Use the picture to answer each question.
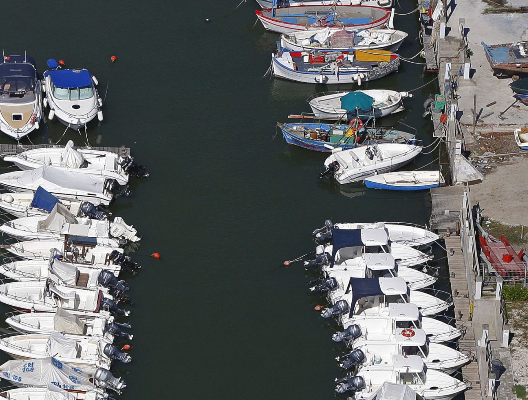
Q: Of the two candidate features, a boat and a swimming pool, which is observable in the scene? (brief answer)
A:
boat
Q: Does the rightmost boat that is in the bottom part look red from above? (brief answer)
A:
Yes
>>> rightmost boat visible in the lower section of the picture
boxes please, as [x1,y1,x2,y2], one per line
[481,228,524,277]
